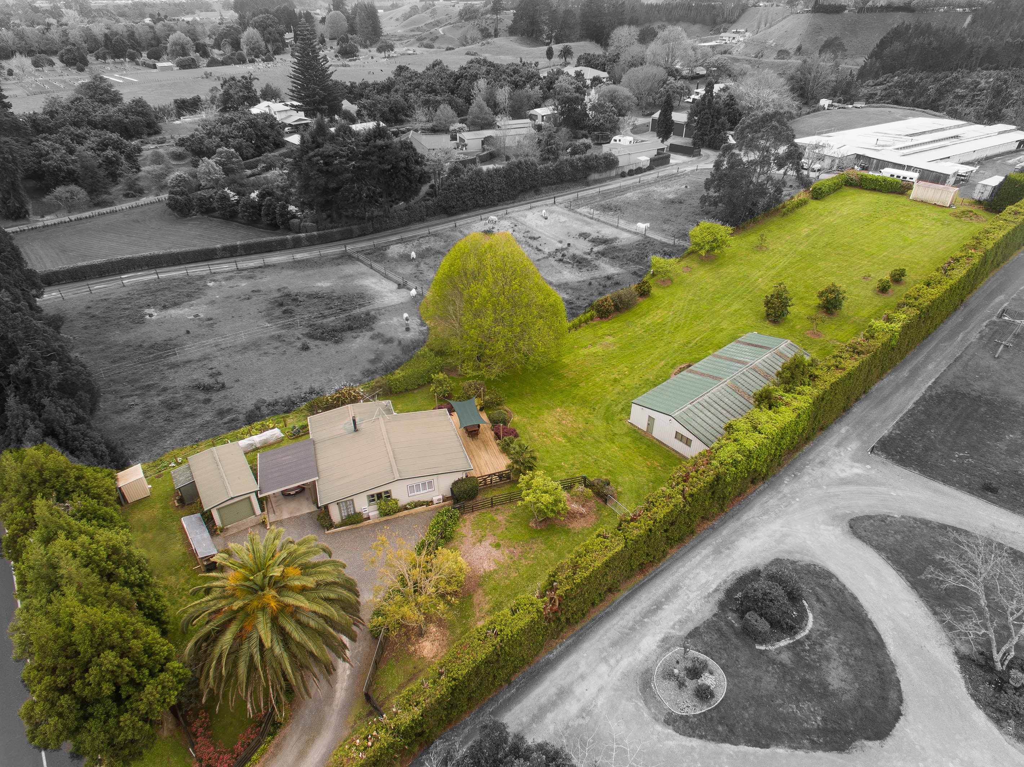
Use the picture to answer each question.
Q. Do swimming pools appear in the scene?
No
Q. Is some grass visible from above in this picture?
Yes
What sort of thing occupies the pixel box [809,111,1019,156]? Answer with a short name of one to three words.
shed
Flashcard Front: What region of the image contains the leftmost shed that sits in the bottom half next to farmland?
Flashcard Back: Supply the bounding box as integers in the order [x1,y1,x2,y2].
[116,463,149,506]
